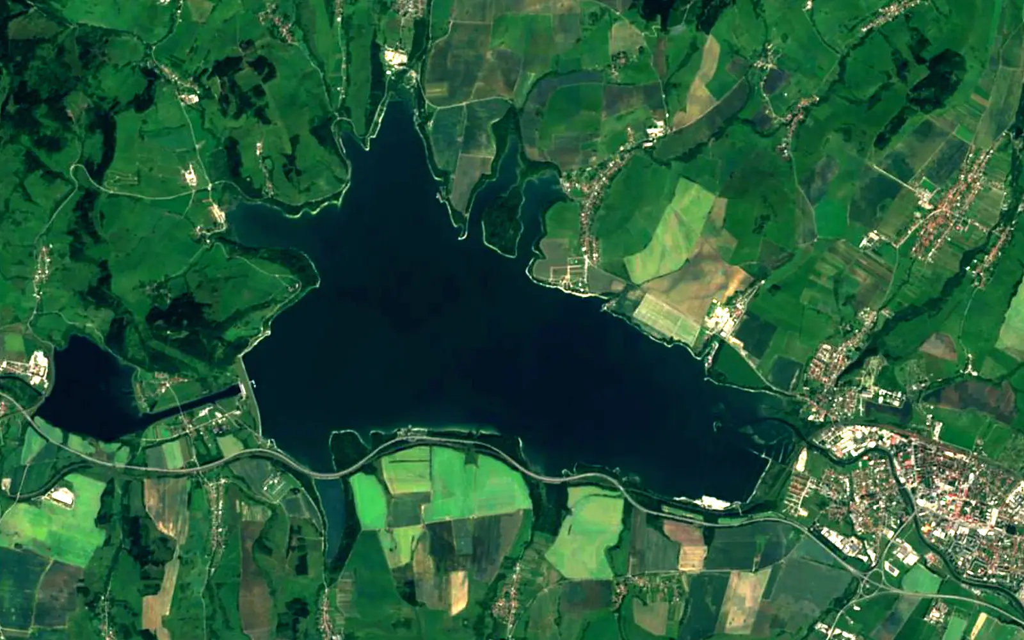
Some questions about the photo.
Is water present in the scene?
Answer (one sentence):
Yes, there is water in the image.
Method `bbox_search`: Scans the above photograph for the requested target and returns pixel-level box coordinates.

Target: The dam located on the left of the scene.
[235,355,263,436]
